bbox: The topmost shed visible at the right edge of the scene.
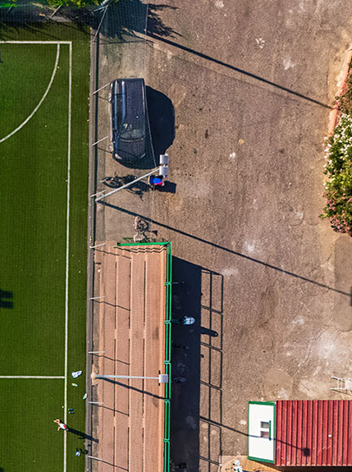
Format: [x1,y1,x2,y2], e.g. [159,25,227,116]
[248,402,352,465]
